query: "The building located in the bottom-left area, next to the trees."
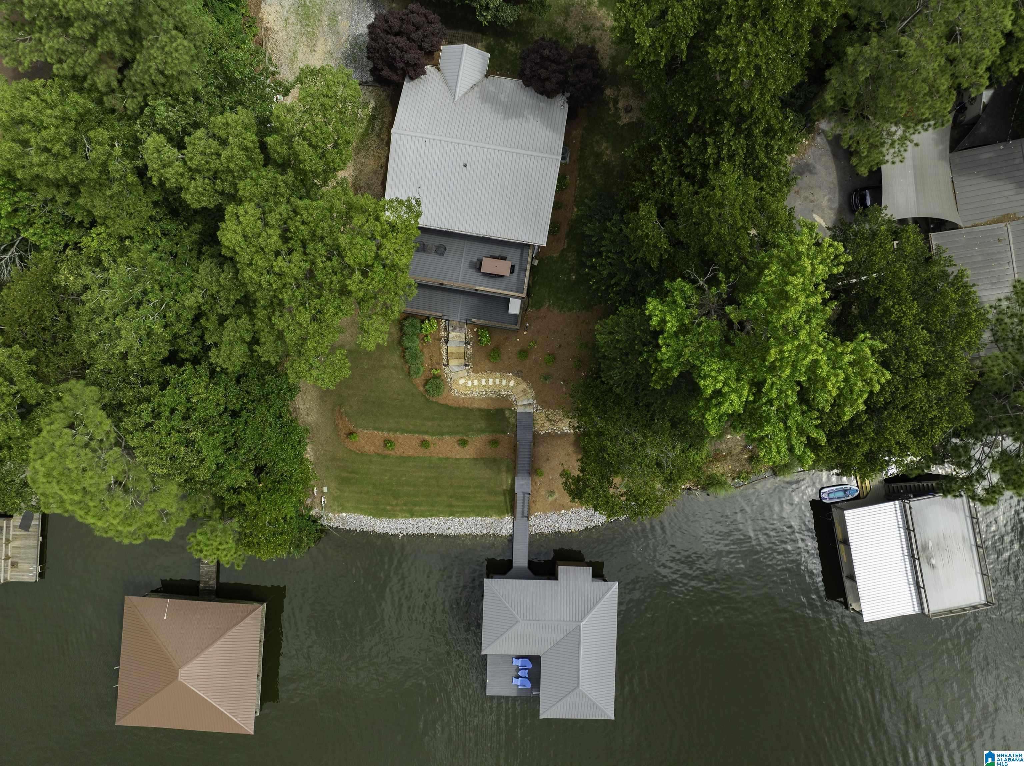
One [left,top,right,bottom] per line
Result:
[114,592,267,737]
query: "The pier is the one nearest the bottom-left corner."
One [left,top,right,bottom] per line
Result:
[0,511,51,583]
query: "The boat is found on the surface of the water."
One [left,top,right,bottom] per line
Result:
[818,483,860,504]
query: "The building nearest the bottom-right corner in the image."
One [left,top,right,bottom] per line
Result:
[828,490,994,623]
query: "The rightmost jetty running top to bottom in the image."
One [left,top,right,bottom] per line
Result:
[200,533,220,599]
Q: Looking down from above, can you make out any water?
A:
Yes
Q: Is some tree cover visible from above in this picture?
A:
Yes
